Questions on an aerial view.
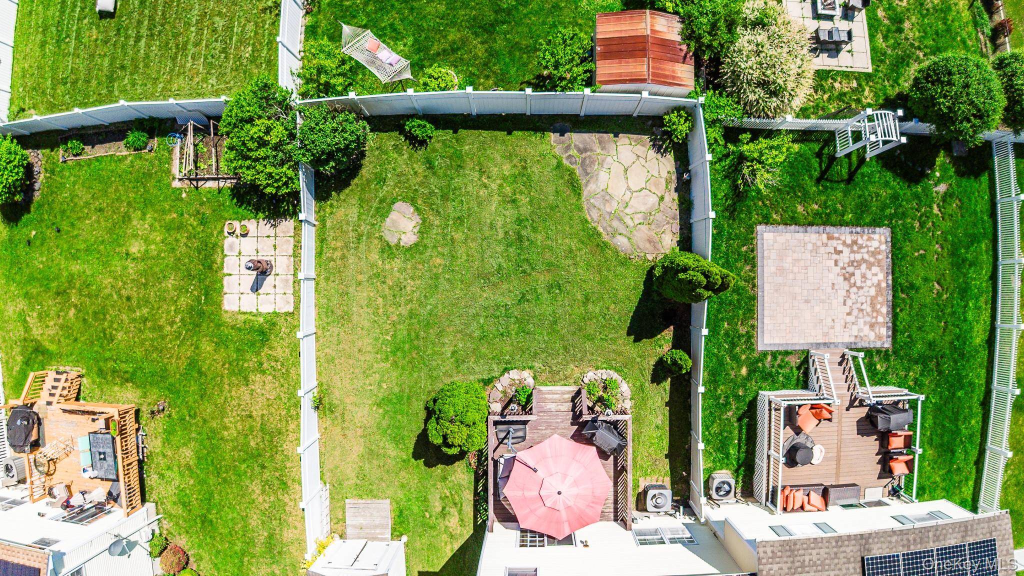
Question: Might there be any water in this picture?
No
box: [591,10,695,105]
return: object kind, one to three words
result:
shed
